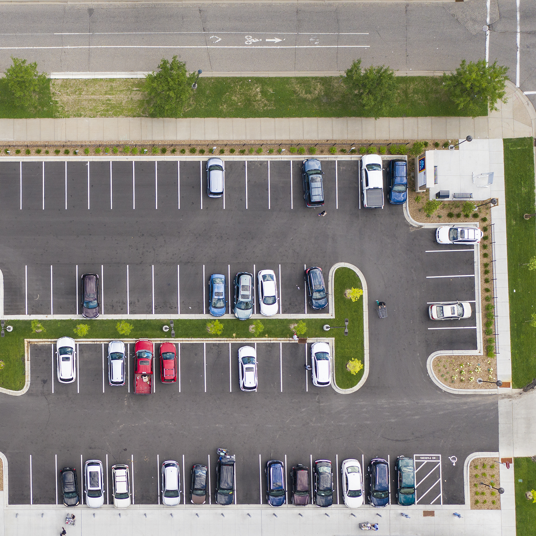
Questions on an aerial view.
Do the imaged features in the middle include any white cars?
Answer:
Yes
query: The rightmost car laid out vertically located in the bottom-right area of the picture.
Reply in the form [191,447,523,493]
[394,456,417,506]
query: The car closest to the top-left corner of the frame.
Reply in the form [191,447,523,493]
[205,158,227,198]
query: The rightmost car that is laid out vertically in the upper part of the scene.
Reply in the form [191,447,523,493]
[386,158,409,205]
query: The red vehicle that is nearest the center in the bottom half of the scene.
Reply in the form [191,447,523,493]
[158,342,179,384]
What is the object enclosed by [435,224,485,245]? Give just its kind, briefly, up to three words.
car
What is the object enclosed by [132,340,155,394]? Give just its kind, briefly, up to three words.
truck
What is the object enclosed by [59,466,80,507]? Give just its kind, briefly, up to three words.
car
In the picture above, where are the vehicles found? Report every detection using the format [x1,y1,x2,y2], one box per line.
[359,154,385,209]
[341,458,364,508]
[233,272,255,320]
[386,158,409,205]
[256,270,279,316]
[80,273,101,319]
[56,337,77,384]
[435,224,485,245]
[208,274,229,317]
[394,456,417,506]
[264,460,287,507]
[111,465,132,509]
[427,300,471,322]
[301,158,325,209]
[84,459,105,508]
[237,346,259,392]
[160,460,183,506]
[189,465,210,505]
[158,342,179,384]
[132,340,155,394]
[313,459,335,508]
[59,466,80,507]
[309,342,333,387]
[214,459,237,506]
[288,465,312,507]
[303,266,329,309]
[106,341,128,386]
[205,158,227,198]
[367,458,391,508]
